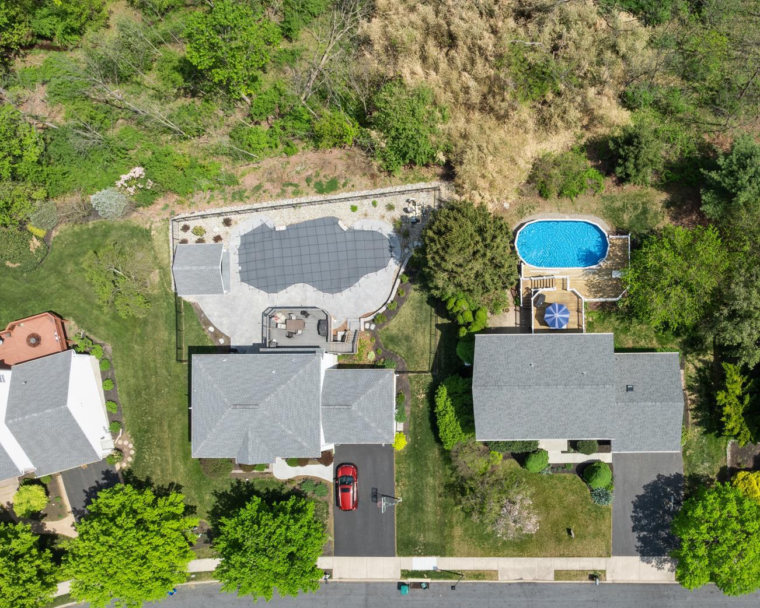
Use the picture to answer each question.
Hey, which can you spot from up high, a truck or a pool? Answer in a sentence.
Looking from above, you can make out a pool.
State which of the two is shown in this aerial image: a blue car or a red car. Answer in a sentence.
There is a red car in the scene.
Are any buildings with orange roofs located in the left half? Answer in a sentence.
No, there's no building with an orange roof to be seen in the left half.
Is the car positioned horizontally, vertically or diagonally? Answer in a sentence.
What the image shows is the car lying vertically.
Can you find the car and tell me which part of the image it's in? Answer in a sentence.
Look in the bottom portion of the view to spot the car.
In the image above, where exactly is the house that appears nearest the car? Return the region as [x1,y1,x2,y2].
[191,349,398,467]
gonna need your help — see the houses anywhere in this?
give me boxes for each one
[0,348,127,485]
[191,349,398,467]
[472,333,684,453]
